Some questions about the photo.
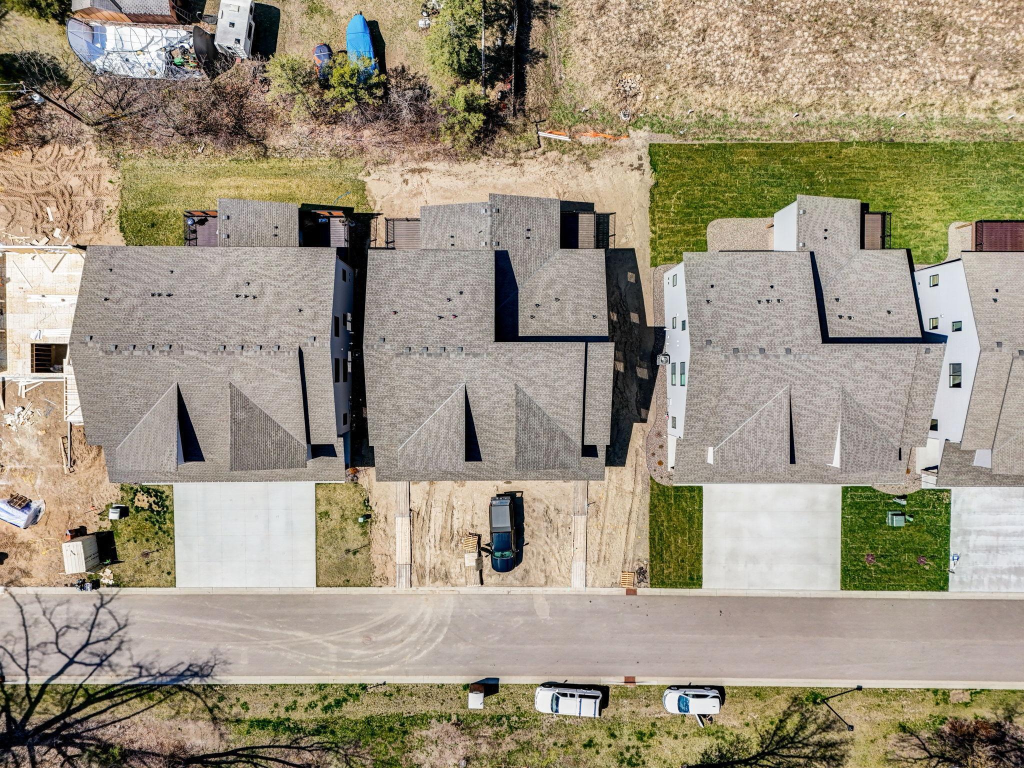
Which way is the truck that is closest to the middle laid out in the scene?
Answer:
vertically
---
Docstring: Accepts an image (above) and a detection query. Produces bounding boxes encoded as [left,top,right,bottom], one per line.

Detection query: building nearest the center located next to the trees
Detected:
[363,193,615,482]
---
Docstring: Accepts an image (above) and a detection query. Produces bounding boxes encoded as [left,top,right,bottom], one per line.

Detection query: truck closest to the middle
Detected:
[478,493,519,573]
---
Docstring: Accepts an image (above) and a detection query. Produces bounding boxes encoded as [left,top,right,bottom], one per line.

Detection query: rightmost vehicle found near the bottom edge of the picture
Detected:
[667,690,722,730]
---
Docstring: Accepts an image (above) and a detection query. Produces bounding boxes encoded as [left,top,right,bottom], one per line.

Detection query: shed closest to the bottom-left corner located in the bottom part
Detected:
[61,535,99,575]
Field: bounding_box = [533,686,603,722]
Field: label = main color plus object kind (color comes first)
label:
white truck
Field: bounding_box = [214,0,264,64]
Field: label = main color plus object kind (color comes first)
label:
white camper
